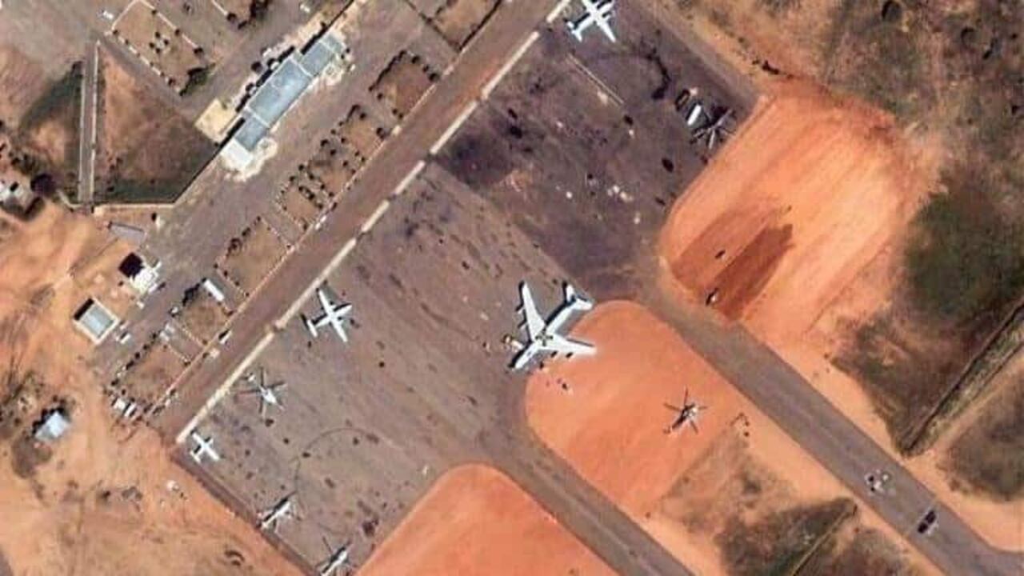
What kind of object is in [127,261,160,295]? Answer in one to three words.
building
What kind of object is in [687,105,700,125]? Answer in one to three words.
vehicle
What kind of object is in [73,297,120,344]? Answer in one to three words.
building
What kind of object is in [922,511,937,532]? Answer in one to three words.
vehicle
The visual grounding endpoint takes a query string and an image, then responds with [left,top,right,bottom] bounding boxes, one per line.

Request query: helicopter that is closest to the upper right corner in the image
[694,110,735,148]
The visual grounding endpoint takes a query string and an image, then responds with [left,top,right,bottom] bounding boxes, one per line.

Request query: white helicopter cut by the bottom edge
[318,542,358,576]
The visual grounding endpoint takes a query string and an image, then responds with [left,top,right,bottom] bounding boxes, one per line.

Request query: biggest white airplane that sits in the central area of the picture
[514,282,599,370]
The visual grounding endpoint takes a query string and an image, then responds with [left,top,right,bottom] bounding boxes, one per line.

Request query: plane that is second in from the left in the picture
[309,291,352,341]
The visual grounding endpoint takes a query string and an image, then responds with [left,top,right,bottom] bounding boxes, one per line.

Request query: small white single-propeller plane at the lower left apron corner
[190,433,218,462]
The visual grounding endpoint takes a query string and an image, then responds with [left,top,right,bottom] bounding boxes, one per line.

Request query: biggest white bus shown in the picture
[203,280,223,301]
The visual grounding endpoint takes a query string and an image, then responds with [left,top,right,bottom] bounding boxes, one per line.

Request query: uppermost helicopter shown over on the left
[243,372,285,414]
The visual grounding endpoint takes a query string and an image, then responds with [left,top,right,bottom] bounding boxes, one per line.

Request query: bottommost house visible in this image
[35,412,70,443]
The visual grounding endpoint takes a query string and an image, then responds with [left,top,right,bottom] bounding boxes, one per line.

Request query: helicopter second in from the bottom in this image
[259,492,300,531]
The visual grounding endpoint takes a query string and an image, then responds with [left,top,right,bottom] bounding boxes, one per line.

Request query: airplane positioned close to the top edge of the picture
[569,0,616,42]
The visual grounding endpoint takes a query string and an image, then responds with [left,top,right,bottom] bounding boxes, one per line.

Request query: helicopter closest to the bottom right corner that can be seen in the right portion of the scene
[670,393,710,432]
